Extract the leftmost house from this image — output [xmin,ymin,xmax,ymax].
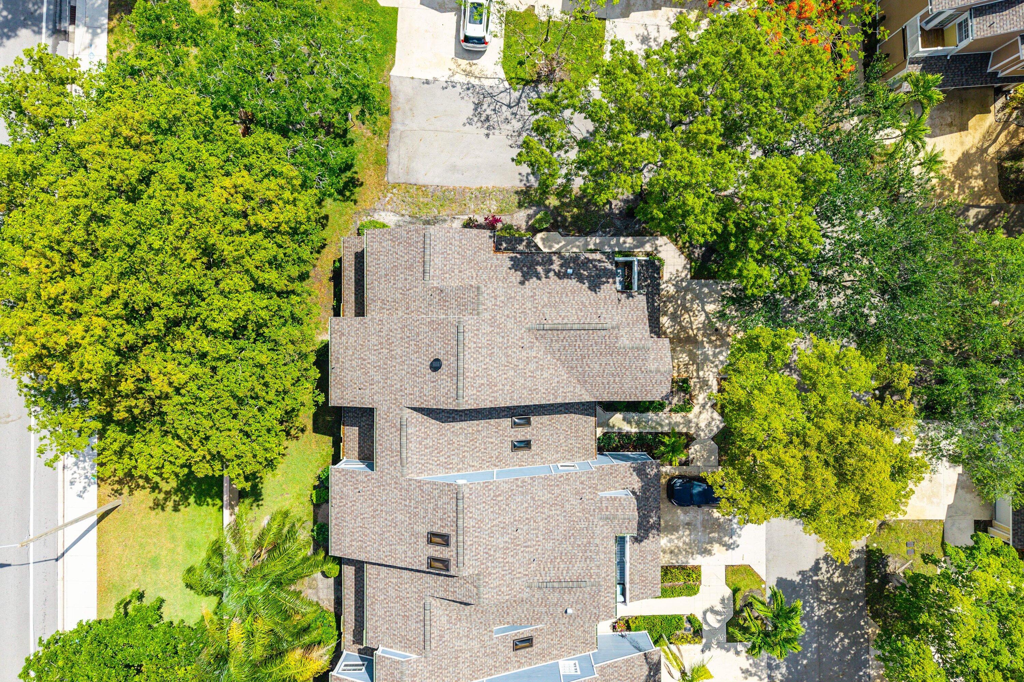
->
[328,225,672,682]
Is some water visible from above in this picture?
No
